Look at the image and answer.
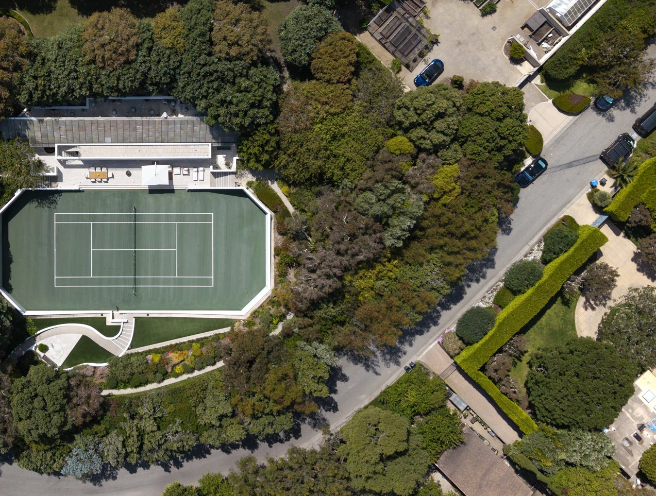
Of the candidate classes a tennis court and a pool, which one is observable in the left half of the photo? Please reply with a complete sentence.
What appears in the left half of the photo is a tennis court.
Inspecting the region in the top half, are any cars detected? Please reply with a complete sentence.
Yes, a car can be seen in the top half.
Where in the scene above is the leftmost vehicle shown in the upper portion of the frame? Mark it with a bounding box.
[413,58,444,86]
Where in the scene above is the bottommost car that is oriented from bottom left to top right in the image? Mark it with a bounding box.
[515,157,547,186]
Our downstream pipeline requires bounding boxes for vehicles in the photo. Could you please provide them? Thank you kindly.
[633,103,656,135]
[592,88,622,113]
[515,157,547,186]
[602,134,634,163]
[413,58,444,86]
